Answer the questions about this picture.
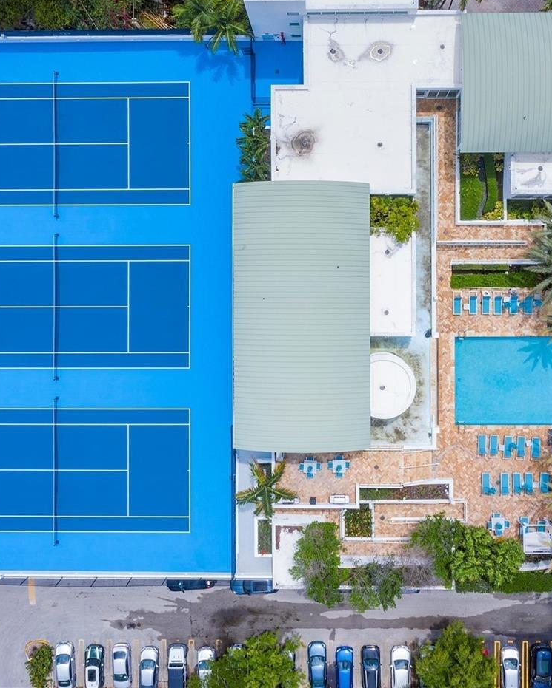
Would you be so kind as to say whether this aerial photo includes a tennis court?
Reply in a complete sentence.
Yes, I can see a tennis court in this picture.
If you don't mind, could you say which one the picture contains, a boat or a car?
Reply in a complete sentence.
The one in the frame is a car.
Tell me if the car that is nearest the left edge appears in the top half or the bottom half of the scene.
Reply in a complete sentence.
It is in the bottom half that the car that is nearest the left edge appears.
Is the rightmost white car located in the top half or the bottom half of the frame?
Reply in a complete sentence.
The bottom half of the photo is where the rightmost white car is.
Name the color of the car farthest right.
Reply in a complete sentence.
The color of the car farthest right is blue.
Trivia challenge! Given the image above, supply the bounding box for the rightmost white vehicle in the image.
[500,645,523,688]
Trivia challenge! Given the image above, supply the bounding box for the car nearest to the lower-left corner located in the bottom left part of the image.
[51,642,75,688]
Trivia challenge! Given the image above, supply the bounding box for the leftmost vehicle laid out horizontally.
[168,579,218,594]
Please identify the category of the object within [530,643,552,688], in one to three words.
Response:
car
